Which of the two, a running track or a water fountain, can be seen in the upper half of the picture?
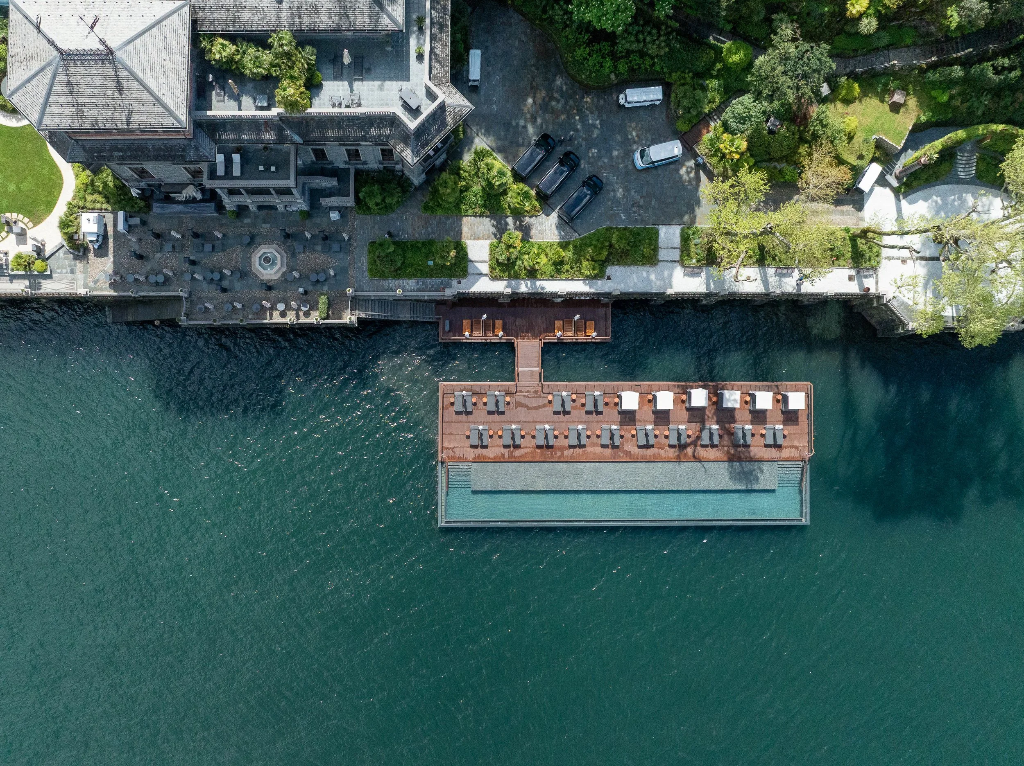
water fountain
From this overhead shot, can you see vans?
Yes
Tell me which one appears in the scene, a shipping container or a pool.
pool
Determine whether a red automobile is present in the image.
No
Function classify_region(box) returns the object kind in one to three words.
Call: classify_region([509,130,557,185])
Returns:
van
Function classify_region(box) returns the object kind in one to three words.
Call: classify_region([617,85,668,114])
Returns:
vehicle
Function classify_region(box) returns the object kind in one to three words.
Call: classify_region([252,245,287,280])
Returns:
fountain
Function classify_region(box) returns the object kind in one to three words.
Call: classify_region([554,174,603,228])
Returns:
van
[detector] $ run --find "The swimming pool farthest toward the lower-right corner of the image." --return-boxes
[439,368,813,526]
